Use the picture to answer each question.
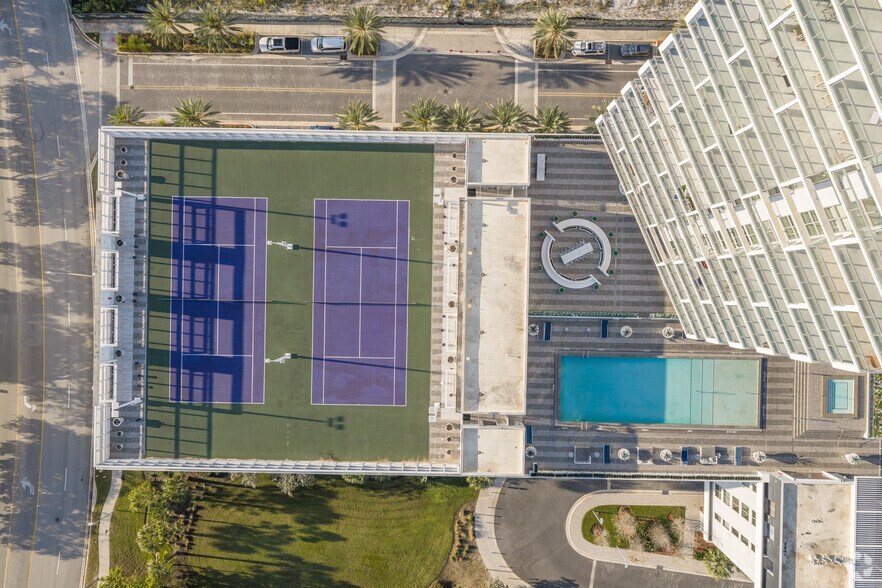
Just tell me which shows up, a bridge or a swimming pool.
swimming pool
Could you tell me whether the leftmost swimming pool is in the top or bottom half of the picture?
bottom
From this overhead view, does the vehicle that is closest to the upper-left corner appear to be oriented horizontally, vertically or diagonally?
horizontally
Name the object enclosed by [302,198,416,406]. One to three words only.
tennis court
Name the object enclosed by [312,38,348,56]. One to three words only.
car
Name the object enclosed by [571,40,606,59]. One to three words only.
vehicle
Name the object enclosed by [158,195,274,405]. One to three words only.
tennis court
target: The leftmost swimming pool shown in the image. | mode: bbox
[551,350,769,436]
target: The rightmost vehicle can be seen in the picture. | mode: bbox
[619,41,651,59]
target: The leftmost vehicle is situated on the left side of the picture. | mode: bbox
[259,37,301,57]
